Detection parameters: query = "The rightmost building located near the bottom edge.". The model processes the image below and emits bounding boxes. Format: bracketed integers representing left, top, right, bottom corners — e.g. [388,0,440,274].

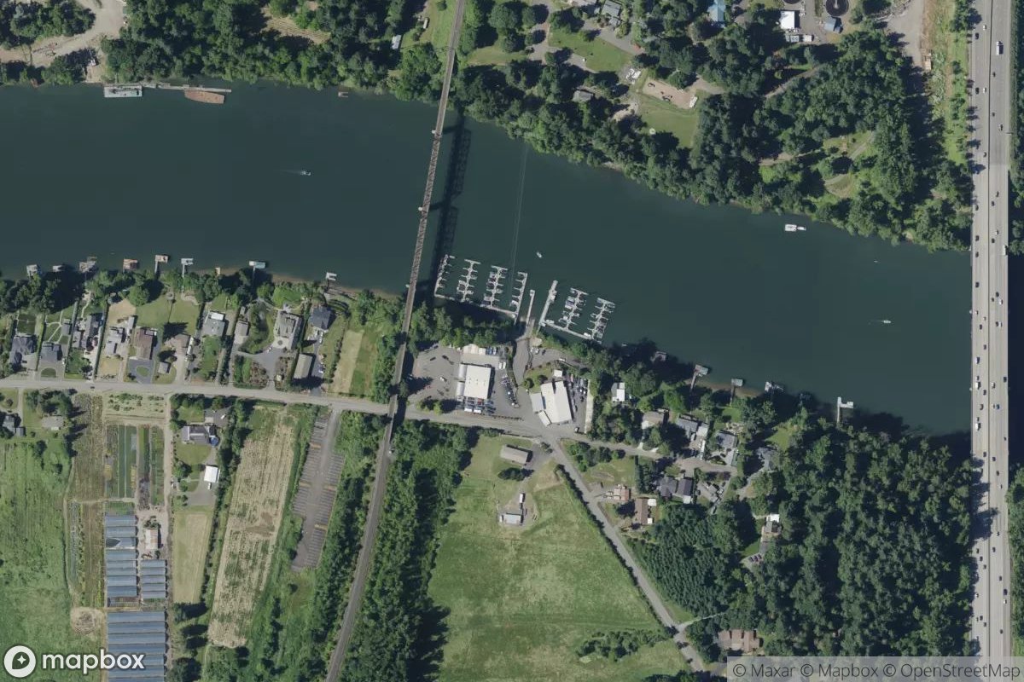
[725,632,754,652]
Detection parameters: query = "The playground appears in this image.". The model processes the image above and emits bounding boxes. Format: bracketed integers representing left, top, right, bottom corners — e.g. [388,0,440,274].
[643,78,698,108]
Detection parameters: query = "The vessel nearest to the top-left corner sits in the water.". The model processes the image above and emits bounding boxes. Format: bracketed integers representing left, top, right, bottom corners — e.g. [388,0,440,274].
[104,85,143,98]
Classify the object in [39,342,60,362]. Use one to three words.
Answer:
house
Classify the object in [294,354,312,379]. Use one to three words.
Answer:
barn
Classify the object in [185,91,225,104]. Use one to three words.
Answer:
ship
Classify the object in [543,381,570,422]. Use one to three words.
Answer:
building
